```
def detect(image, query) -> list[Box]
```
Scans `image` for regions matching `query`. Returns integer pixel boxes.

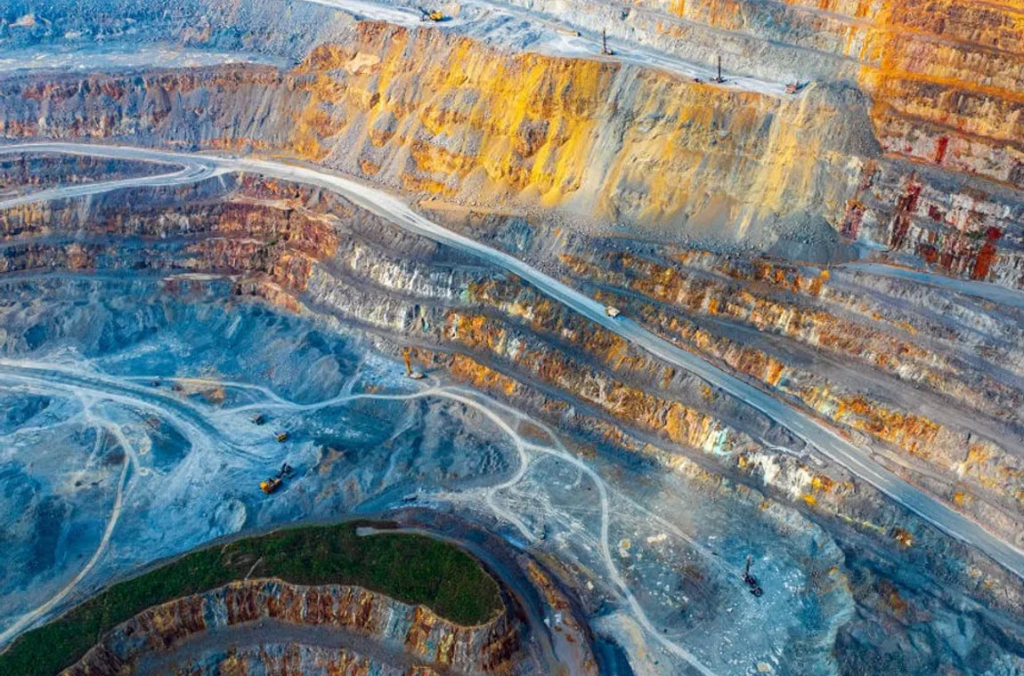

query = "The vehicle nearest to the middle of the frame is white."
[605,303,620,315]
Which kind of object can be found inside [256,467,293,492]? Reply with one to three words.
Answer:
work vehicle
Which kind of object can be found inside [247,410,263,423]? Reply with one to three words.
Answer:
vehicle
